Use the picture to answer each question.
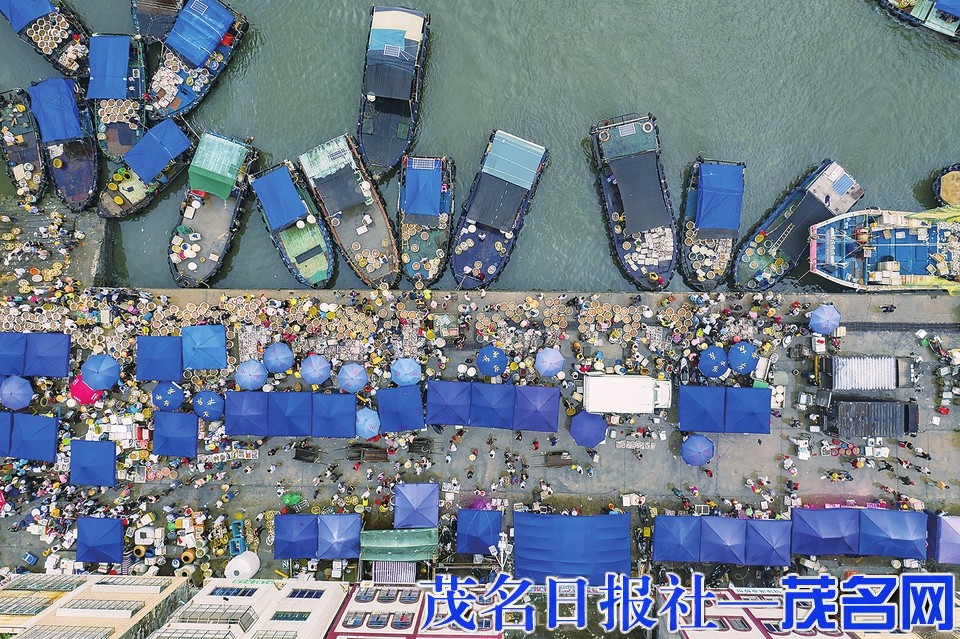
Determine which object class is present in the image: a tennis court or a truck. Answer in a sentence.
The one in the frame is a truck.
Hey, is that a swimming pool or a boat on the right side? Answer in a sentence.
What appears on the right side is a boat.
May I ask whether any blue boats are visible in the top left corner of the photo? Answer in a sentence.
Yes, I can see a blue boat in the top left corner of the photo.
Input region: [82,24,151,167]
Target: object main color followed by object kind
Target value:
blue boat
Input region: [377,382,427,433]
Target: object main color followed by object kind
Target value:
blue tent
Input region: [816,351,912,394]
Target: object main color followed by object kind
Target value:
white truck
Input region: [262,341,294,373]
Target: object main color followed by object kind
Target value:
blue umbrella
